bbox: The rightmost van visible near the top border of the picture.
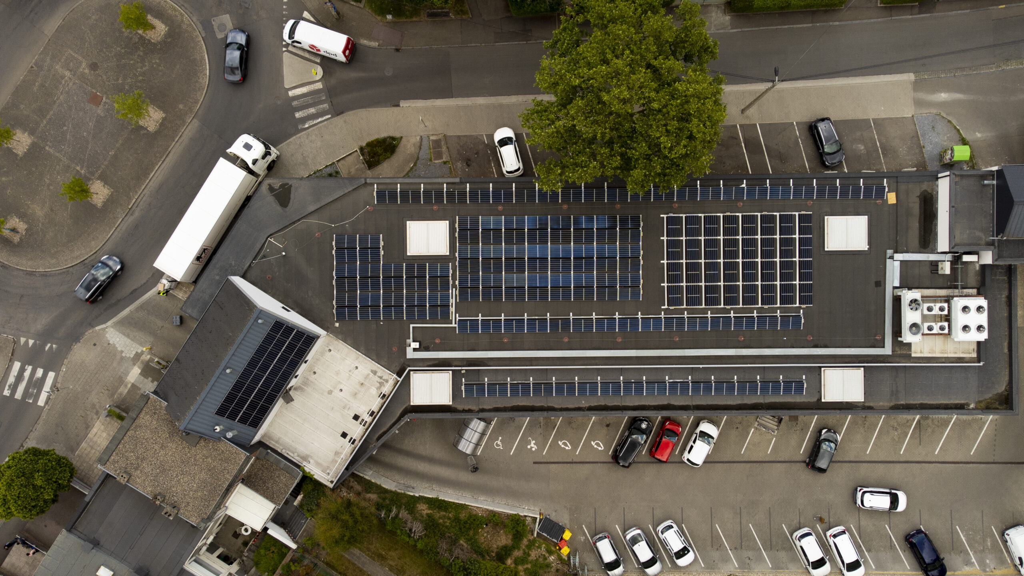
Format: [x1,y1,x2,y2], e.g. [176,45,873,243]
[284,18,360,65]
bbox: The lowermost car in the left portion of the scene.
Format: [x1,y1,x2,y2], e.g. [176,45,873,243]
[76,255,125,305]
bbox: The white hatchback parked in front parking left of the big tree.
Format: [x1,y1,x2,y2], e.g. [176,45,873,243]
[494,128,523,178]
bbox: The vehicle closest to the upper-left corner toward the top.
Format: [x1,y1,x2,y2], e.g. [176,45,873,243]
[223,30,252,85]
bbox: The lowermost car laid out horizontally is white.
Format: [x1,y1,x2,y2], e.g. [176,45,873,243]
[851,485,906,514]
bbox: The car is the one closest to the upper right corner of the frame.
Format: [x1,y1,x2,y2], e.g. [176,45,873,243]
[809,116,846,169]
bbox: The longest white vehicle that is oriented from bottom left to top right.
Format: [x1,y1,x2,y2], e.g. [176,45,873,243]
[153,127,284,281]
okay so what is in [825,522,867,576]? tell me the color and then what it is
white car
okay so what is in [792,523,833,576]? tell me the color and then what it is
white car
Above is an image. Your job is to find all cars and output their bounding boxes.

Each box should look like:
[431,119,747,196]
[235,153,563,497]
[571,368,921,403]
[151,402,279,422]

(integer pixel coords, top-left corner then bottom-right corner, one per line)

[223,30,252,85]
[904,526,947,576]
[681,419,718,468]
[825,522,867,576]
[649,419,682,463]
[612,418,650,468]
[804,426,840,473]
[594,528,630,576]
[76,255,125,305]
[494,128,523,178]
[657,516,695,568]
[625,523,663,576]
[851,485,906,514]
[809,116,846,169]
[792,523,833,576]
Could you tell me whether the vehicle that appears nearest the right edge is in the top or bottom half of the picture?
bottom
